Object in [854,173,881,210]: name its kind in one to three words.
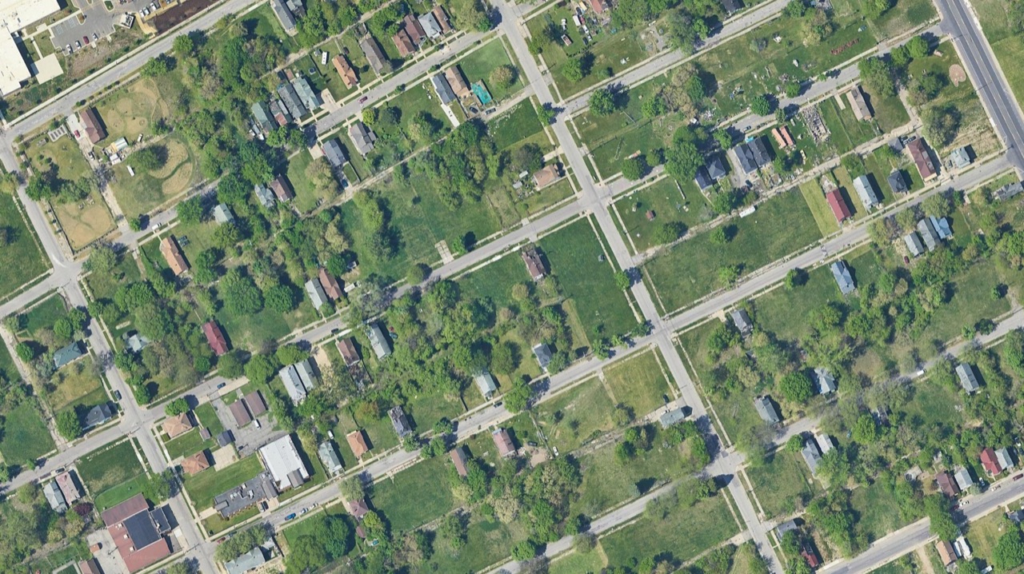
house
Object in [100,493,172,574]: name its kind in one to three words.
building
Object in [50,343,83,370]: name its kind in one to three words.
house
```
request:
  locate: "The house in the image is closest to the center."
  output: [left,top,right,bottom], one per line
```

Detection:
[520,244,546,283]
